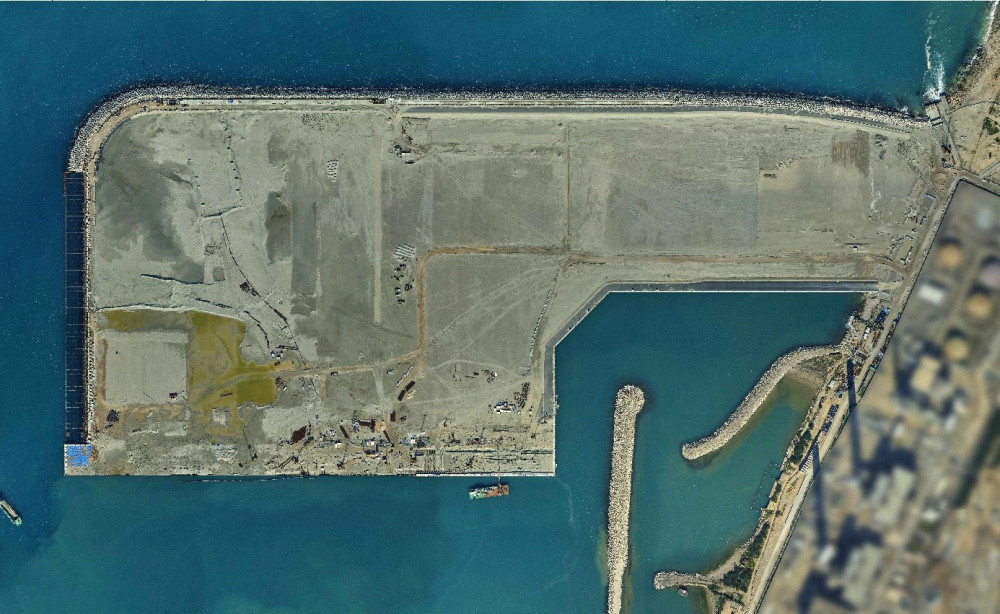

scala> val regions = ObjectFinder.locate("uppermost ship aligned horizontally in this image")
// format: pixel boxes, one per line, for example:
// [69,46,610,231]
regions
[469,483,509,500]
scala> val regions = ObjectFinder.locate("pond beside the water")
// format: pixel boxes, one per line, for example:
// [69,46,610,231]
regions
[101,309,275,406]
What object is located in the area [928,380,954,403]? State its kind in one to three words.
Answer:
shed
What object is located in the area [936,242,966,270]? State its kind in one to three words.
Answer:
storage tank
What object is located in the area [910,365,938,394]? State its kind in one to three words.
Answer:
building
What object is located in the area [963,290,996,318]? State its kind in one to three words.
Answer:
storage tank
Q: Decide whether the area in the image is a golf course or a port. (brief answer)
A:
port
